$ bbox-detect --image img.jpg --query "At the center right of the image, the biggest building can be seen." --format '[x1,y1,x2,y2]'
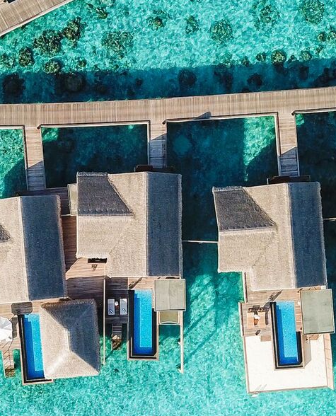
[212,175,325,292]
